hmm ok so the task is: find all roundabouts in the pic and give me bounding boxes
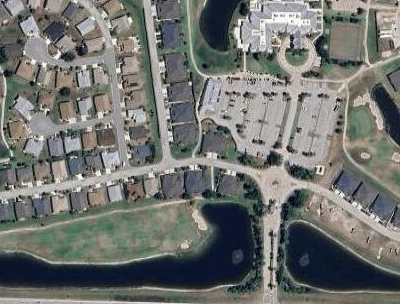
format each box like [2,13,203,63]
[254,163,300,206]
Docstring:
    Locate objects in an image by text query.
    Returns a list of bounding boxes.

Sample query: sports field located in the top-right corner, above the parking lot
[330,22,364,59]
